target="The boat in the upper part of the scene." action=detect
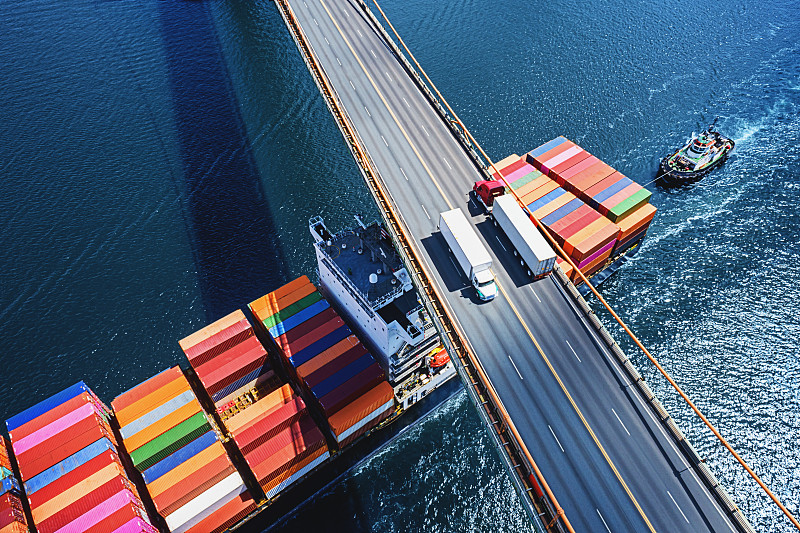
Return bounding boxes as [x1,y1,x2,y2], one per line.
[656,120,740,188]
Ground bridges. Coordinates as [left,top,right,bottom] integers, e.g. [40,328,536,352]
[273,0,800,533]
